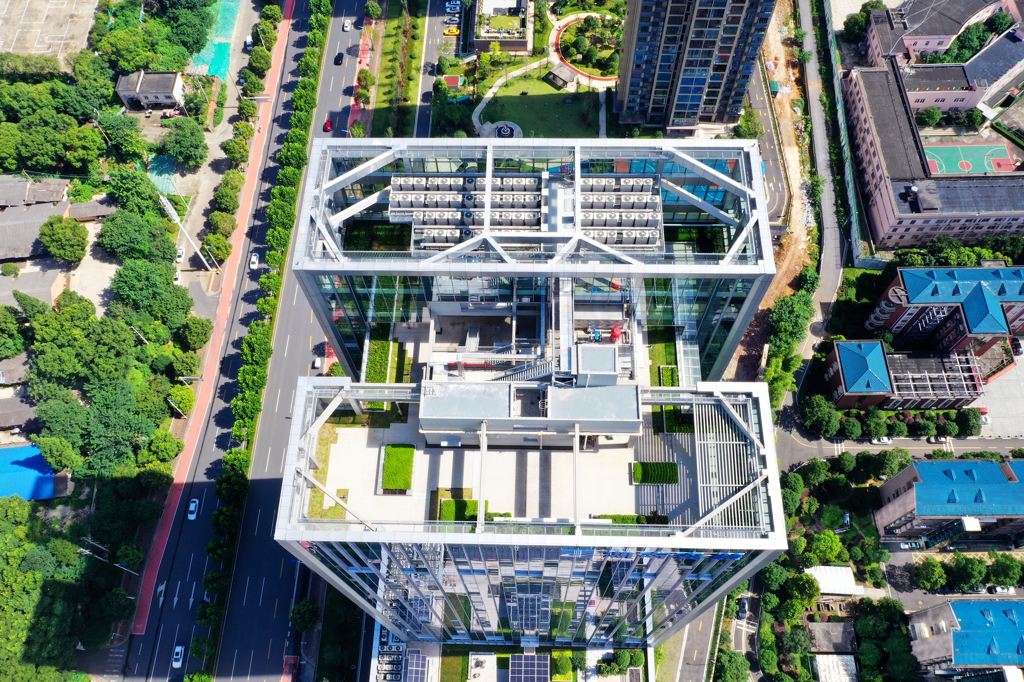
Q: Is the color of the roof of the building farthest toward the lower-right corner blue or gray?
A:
blue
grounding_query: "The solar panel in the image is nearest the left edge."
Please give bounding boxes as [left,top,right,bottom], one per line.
[407,654,428,682]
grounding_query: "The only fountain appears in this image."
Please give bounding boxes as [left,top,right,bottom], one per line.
[495,122,516,139]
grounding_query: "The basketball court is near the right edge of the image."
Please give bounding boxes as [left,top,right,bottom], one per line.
[921,142,1021,175]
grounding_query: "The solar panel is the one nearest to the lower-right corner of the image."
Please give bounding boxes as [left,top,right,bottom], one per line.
[510,654,549,682]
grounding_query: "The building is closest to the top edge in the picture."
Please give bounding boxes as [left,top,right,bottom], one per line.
[475,0,531,55]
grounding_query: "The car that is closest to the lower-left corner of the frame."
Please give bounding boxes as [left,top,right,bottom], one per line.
[171,644,185,670]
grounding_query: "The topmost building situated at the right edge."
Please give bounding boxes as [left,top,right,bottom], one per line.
[842,0,1024,238]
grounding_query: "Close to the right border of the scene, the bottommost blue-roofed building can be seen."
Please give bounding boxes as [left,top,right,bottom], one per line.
[909,598,1024,682]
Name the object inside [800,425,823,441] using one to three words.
car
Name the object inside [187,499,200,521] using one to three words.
vehicle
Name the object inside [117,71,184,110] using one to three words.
house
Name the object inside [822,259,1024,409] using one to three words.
building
